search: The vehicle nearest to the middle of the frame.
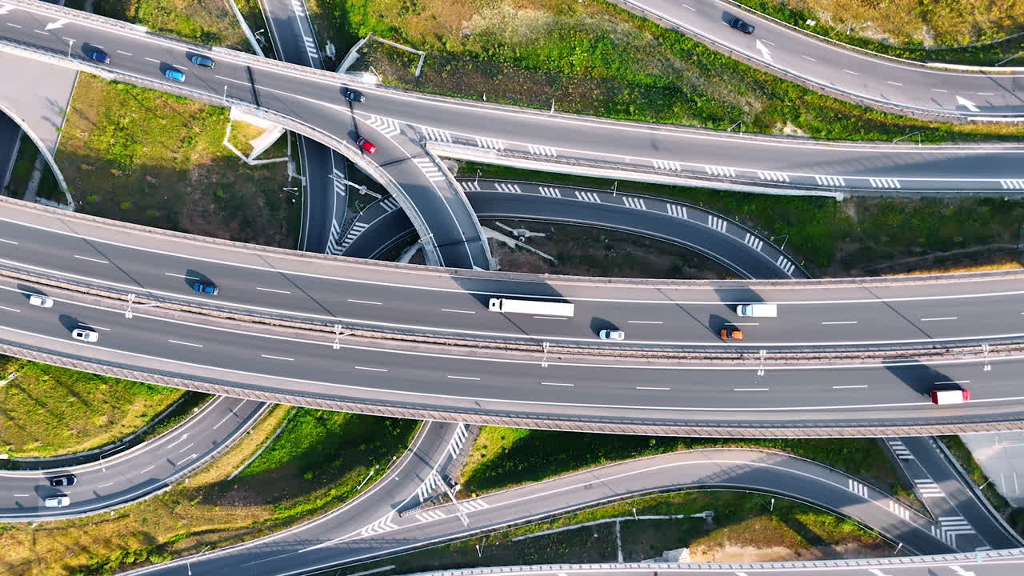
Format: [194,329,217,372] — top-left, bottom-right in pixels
[488,298,575,317]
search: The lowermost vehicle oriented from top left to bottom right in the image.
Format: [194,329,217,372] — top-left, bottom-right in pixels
[357,138,376,154]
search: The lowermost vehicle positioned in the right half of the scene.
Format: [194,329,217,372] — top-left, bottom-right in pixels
[926,390,971,406]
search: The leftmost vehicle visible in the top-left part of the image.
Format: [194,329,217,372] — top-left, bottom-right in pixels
[89,50,110,64]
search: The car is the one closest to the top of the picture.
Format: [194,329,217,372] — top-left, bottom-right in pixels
[730,18,754,35]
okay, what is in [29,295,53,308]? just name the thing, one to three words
vehicle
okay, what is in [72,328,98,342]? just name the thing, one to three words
car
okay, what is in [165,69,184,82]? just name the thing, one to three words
vehicle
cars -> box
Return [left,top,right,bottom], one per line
[72,328,98,342]
[29,295,53,308]
[357,138,376,154]
[193,282,218,294]
[600,329,624,340]
[730,18,754,35]
[52,475,75,486]
[165,69,184,82]
[345,90,365,102]
[89,50,110,64]
[46,496,69,507]
[720,328,743,340]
